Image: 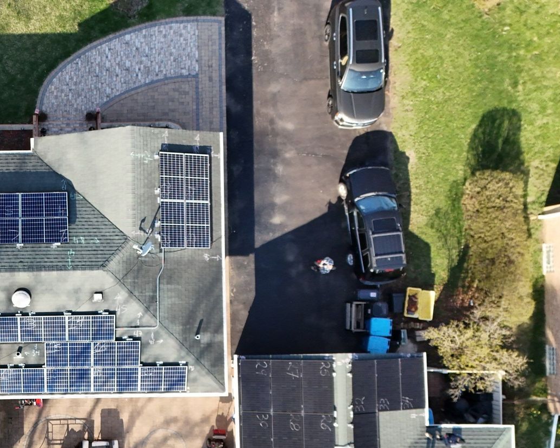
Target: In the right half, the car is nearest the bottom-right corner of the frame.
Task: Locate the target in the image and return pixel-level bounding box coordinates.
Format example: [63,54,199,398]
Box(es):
[337,169,410,289]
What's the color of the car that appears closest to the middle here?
black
